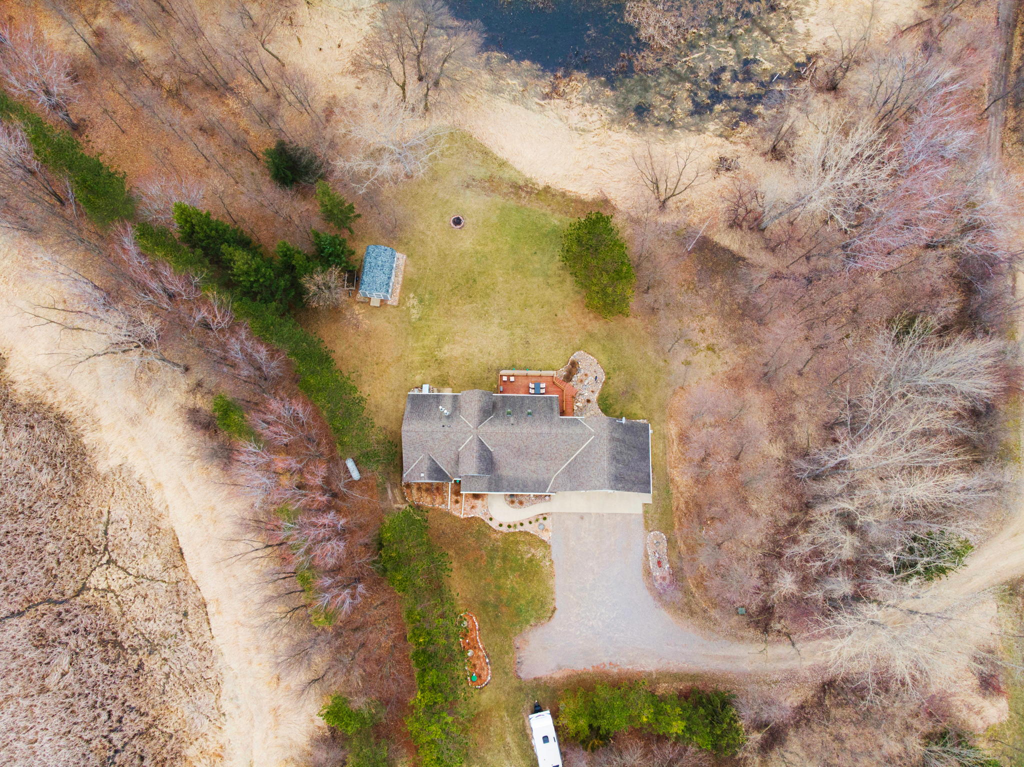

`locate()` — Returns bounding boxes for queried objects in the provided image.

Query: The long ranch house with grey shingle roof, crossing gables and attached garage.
[402,389,653,496]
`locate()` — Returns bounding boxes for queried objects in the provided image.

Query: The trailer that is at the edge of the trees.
[528,695,563,767]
